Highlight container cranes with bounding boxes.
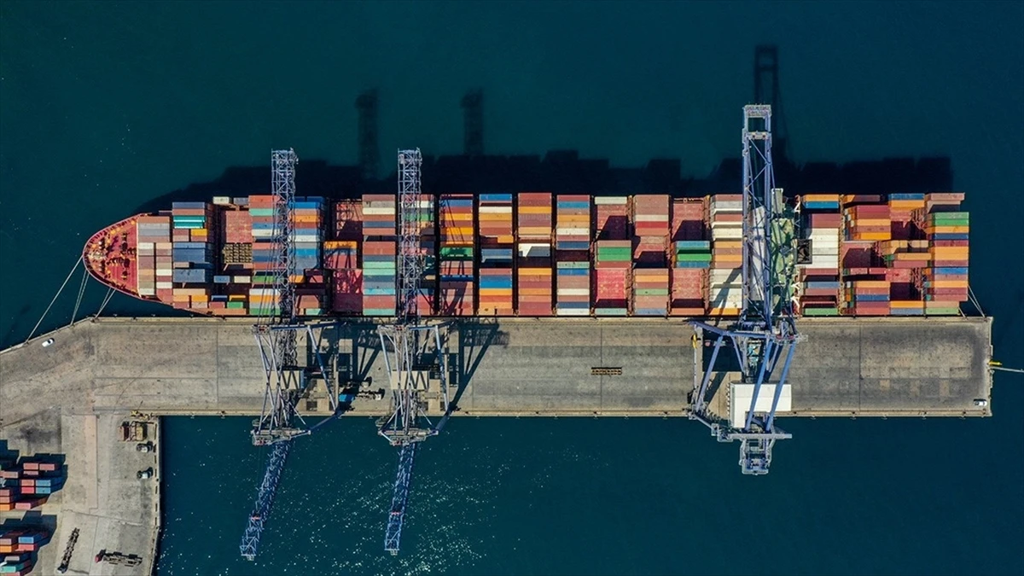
[233,142,349,563]
[372,142,458,563]
[685,103,813,474]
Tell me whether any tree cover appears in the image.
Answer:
No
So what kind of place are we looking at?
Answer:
port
